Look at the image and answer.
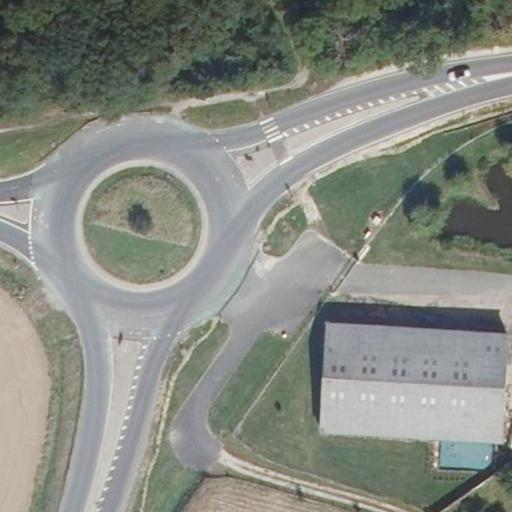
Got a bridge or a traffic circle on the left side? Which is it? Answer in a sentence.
You can see a traffic circle on the left side.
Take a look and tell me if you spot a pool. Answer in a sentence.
Yes, the image includes a pool.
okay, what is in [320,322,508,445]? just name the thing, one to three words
building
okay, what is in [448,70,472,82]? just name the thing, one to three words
vehicle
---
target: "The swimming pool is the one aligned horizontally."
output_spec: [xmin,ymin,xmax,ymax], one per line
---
[431,442,496,473]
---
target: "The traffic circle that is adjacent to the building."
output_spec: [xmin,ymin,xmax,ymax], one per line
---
[30,114,260,347]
